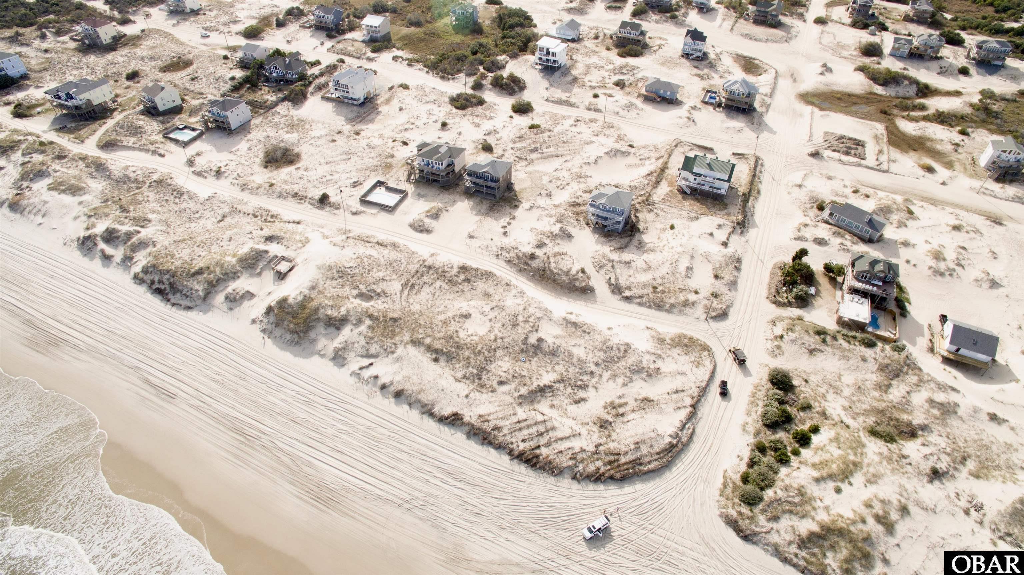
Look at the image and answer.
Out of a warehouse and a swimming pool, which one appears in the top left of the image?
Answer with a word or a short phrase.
swimming pool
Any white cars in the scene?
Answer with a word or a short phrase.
Yes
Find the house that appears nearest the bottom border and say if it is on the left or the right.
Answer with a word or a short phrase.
right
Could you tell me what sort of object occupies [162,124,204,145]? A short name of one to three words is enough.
swimming pool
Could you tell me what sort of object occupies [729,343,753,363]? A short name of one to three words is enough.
vehicle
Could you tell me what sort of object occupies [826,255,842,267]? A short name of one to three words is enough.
vehicle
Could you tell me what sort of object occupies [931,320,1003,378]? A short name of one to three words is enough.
house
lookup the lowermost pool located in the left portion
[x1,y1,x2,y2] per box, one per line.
[359,180,408,211]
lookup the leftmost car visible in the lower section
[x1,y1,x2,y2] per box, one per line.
[579,508,612,535]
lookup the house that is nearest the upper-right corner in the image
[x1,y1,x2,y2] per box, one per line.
[957,37,1012,67]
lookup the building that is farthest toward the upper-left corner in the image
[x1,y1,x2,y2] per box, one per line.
[0,47,30,78]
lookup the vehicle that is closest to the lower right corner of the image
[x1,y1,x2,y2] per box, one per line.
[936,310,950,327]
